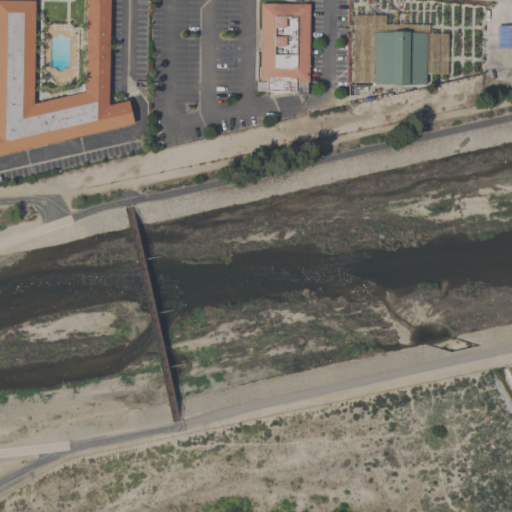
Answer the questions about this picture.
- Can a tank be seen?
No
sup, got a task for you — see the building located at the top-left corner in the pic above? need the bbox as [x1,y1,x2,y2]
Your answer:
[0,0,135,156]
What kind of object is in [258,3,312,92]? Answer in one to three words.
building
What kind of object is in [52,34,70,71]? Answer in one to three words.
swimming pool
